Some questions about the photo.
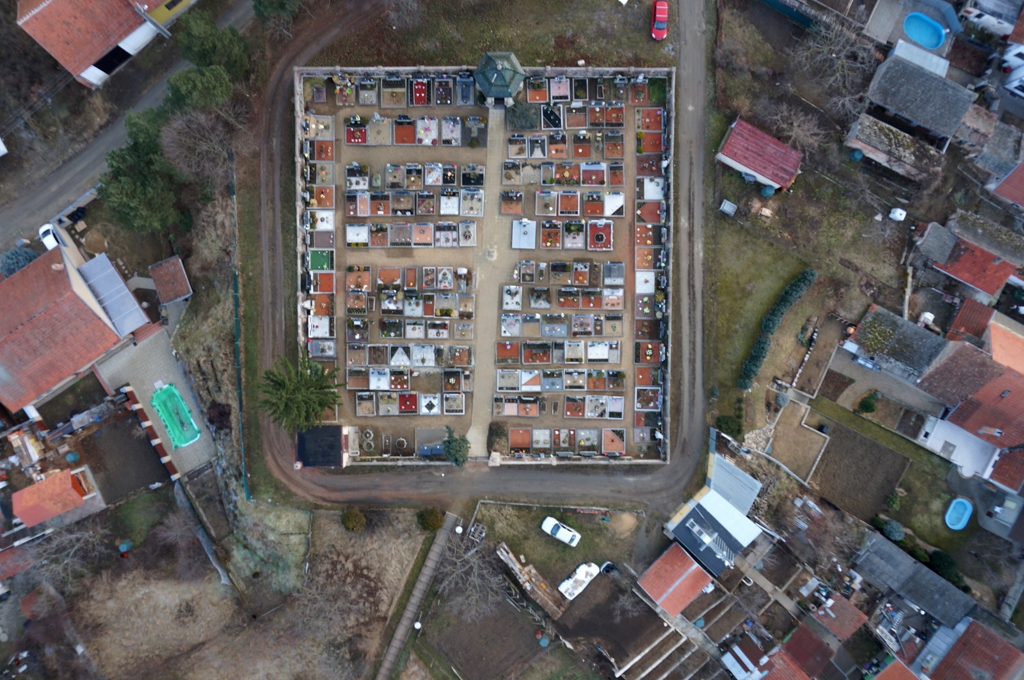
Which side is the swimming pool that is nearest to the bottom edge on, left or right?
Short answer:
right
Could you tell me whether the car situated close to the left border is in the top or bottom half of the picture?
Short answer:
top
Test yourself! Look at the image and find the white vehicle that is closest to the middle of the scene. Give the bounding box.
[541,516,582,547]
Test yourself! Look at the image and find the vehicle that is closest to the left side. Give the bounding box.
[33,219,63,254]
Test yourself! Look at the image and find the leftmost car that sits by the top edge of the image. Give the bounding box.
[651,0,671,39]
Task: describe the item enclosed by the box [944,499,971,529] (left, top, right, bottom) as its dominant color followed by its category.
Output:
blue swimming pool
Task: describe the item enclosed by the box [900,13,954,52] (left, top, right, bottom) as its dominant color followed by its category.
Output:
blue swimming pool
